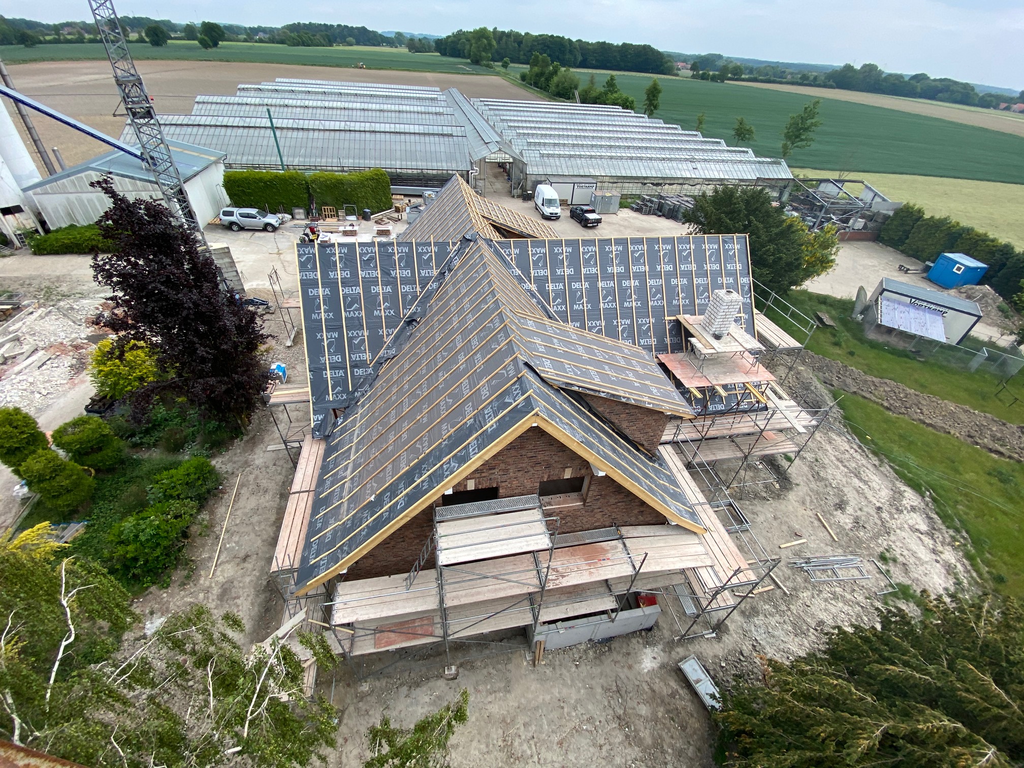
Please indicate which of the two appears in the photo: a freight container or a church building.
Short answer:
freight container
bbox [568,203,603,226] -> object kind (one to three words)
truck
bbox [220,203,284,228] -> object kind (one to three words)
truck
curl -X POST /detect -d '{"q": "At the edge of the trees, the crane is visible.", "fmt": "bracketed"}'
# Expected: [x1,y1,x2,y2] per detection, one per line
[86,0,261,296]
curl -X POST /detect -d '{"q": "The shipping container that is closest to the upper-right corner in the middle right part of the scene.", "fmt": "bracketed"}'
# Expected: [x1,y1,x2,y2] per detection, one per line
[862,278,985,355]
